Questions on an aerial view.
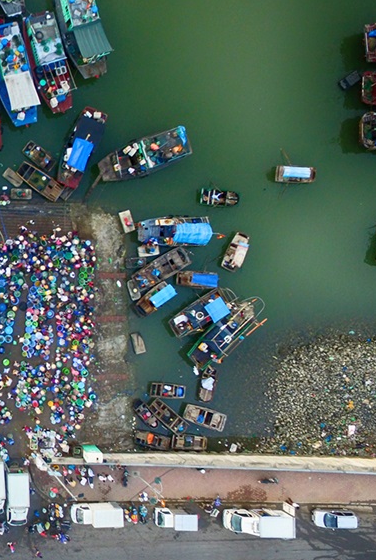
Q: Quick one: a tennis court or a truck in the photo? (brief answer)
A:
truck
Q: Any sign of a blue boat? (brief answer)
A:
Yes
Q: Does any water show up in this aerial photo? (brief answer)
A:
Yes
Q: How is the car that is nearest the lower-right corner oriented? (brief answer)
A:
from left to right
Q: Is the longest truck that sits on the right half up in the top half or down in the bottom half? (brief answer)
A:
bottom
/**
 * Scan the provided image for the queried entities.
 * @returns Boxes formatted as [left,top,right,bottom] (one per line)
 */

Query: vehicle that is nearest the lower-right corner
[313,510,363,534]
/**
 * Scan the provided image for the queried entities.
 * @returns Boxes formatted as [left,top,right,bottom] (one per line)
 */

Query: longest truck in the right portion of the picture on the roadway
[222,507,305,540]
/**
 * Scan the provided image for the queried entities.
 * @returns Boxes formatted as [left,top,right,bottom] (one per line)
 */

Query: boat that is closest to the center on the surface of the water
[173,271,219,288]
